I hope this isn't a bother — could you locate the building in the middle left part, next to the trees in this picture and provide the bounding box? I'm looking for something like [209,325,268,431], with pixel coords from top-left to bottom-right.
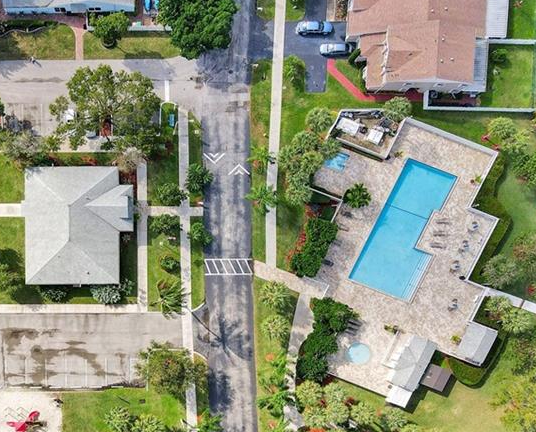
[25,166,134,284]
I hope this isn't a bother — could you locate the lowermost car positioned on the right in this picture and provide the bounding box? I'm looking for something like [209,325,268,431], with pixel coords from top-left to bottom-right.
[318,41,351,57]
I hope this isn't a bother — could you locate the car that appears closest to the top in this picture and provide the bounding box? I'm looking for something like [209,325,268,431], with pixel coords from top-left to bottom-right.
[297,21,332,36]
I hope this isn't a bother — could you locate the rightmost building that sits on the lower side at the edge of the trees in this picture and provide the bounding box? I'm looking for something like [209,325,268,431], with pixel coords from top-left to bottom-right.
[453,321,498,366]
